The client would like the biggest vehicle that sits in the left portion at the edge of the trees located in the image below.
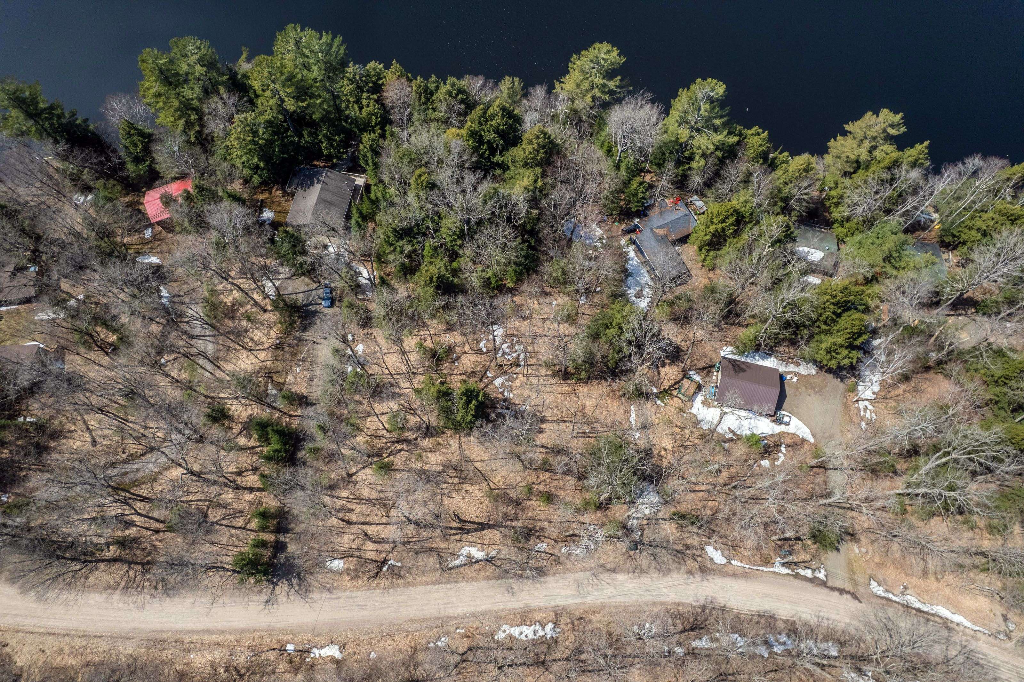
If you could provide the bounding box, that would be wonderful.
[317,286,332,307]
